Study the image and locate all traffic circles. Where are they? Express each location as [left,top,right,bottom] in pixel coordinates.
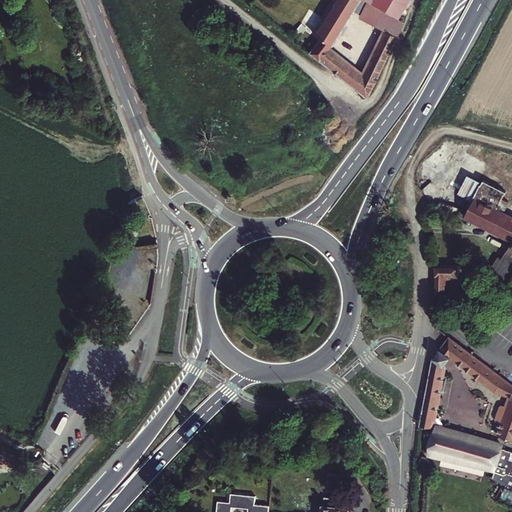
[196,217,361,383]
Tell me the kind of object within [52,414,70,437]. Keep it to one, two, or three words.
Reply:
vehicle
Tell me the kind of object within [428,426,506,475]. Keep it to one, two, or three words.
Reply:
building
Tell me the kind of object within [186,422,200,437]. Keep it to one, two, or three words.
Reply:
vehicle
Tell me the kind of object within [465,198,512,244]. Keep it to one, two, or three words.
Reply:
house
